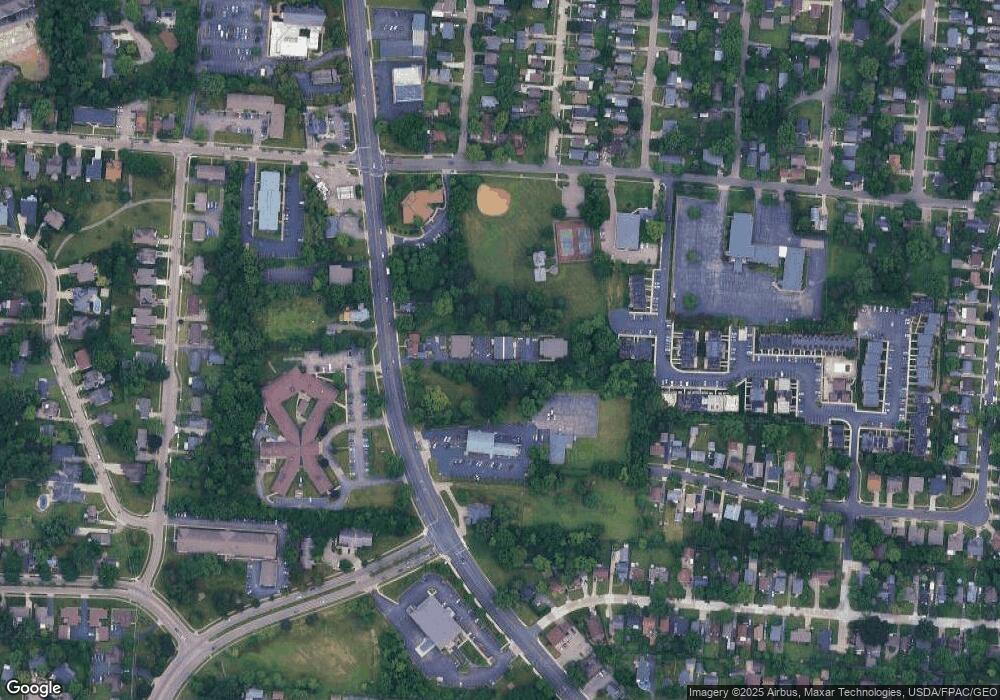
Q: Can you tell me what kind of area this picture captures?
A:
residential area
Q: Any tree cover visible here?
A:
Yes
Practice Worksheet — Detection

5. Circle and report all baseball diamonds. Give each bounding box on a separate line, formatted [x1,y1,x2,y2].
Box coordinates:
[464,176,561,299]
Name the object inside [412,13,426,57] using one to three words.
building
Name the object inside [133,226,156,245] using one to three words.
house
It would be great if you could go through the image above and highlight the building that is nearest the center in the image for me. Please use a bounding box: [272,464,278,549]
[494,337,514,359]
